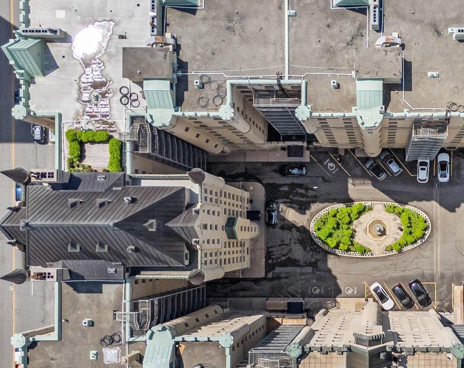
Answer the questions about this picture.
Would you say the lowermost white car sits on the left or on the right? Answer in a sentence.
The lowermost white car is on the right side of the image.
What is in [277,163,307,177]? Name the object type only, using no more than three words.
car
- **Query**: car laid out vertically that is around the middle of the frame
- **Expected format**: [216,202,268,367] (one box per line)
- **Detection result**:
[265,198,279,229]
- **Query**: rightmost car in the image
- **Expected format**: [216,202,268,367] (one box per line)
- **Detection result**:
[436,152,451,183]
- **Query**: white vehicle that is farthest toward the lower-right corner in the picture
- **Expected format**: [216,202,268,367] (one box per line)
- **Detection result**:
[369,280,396,312]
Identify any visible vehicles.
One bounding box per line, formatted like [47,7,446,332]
[364,155,388,184]
[11,82,22,107]
[277,163,307,177]
[408,279,432,309]
[417,158,431,185]
[379,147,403,176]
[265,198,279,229]
[30,122,46,149]
[369,280,396,312]
[436,152,451,183]
[390,282,414,312]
